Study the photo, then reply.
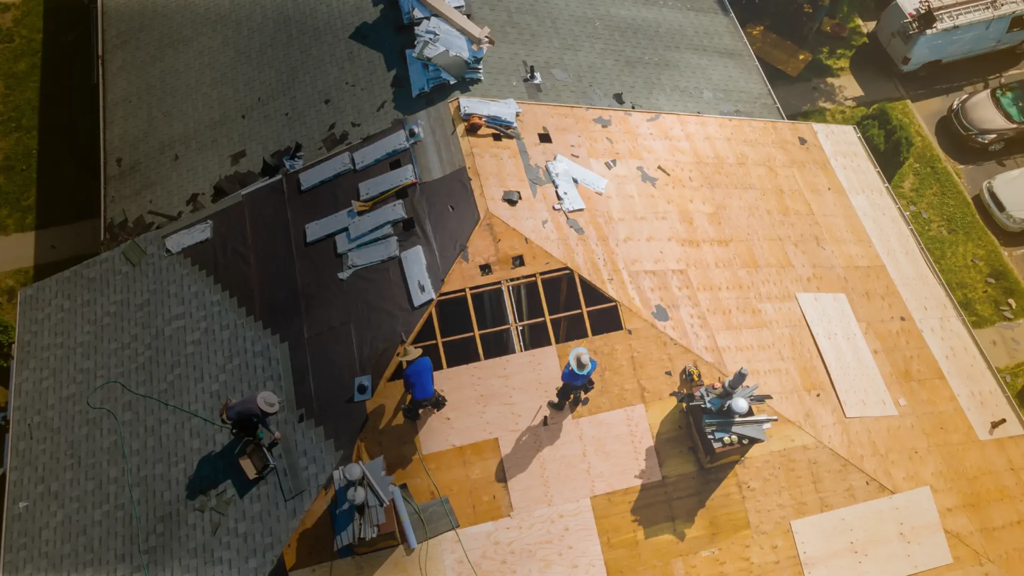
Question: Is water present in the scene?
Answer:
No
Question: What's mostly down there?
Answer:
buildings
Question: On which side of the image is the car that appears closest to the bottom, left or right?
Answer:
right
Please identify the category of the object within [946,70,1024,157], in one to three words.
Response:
car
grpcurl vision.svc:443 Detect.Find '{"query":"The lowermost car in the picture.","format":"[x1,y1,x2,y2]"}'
[981,169,1024,243]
